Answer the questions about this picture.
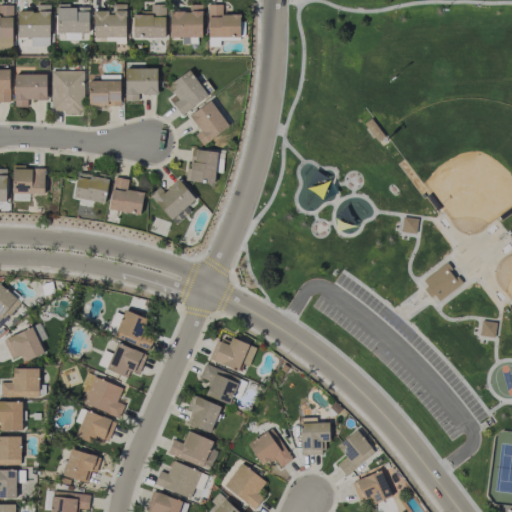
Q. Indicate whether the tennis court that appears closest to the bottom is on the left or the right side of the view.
right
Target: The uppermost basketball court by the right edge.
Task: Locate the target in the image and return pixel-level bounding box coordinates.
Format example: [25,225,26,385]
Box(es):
[488,356,512,406]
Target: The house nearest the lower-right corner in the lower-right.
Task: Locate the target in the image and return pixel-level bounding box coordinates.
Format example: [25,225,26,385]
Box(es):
[354,462,399,503]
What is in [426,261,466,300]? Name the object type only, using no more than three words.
building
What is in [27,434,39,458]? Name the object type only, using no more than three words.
swimming pool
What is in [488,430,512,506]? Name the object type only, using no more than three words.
tennis court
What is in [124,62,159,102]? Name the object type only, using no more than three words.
house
